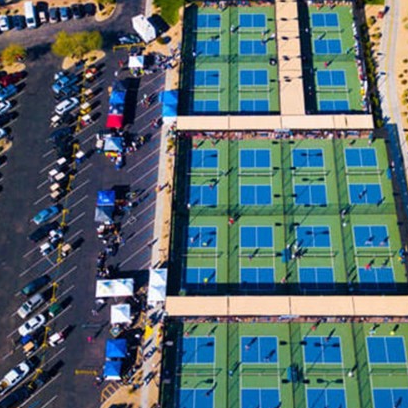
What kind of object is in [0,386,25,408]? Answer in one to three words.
car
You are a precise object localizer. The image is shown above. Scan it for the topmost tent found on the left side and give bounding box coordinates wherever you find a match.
[128,16,160,52]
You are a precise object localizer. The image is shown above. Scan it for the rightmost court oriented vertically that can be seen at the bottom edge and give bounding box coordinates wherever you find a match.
[367,337,408,408]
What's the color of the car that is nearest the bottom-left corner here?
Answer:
black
